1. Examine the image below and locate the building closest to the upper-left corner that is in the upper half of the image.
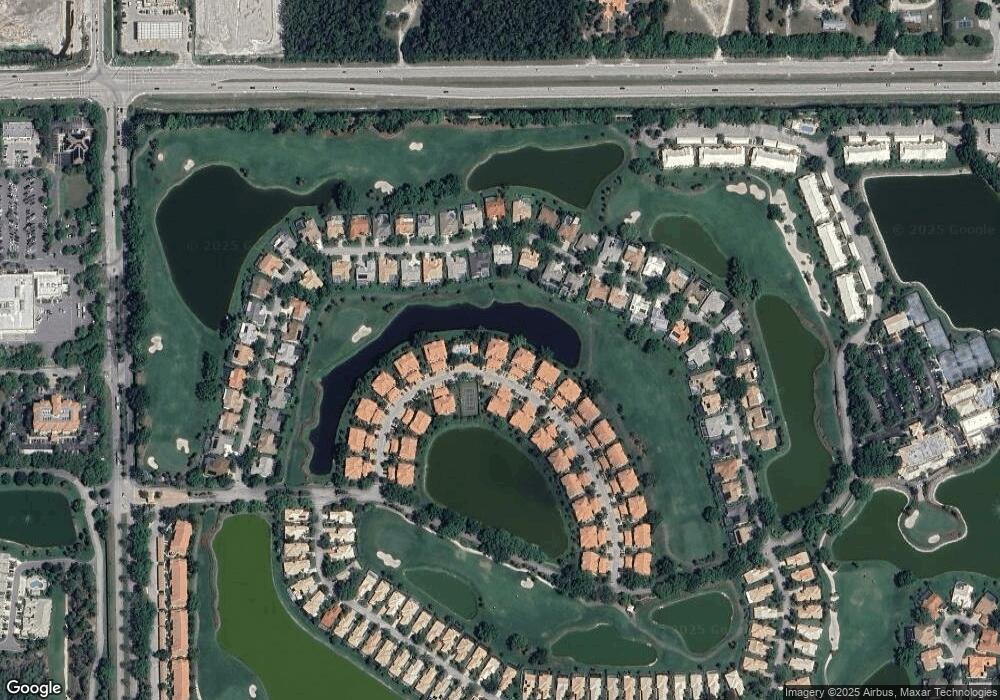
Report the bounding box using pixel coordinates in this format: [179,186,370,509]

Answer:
[3,122,32,140]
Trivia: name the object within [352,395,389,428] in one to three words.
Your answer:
house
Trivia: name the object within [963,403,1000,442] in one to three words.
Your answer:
building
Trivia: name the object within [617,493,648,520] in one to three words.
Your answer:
house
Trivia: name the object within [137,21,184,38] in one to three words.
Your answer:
building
